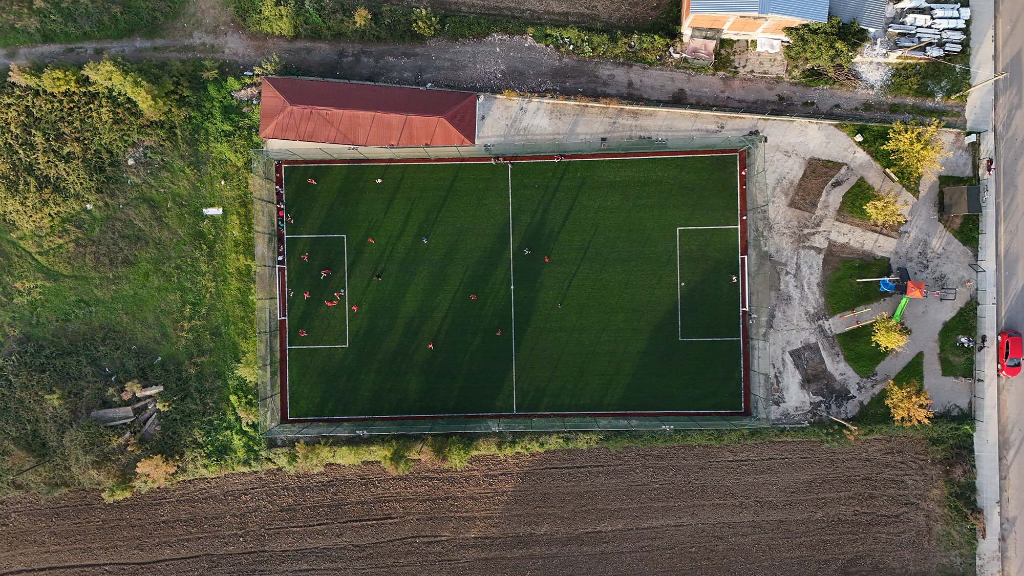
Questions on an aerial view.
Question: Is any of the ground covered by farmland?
Yes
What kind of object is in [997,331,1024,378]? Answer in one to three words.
car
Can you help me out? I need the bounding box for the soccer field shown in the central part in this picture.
[275,149,751,423]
